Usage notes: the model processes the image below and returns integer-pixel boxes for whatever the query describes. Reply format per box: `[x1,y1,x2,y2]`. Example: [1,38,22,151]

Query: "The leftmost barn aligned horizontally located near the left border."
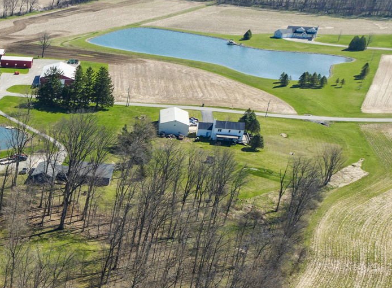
[0,53,33,68]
